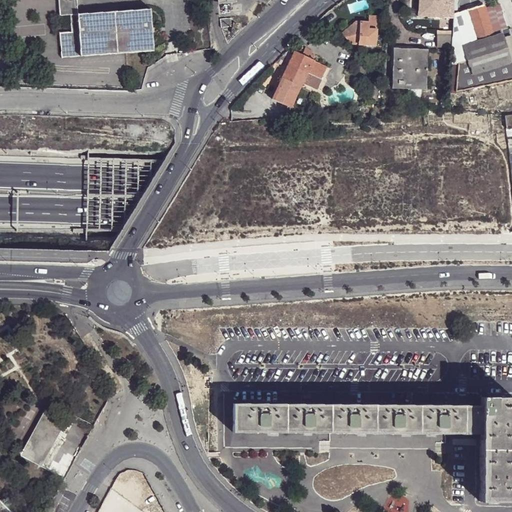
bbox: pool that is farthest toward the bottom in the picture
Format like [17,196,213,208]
[328,88,354,104]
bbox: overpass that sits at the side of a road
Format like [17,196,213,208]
[108,129,212,251]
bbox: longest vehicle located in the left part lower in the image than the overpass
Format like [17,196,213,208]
[176,392,192,437]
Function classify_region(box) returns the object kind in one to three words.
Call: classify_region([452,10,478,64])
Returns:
building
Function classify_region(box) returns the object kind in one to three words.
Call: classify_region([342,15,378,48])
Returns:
house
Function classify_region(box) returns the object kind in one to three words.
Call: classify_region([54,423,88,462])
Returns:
shed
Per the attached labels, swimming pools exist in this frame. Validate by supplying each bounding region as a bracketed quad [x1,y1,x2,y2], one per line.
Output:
[328,88,354,104]
[346,0,370,14]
